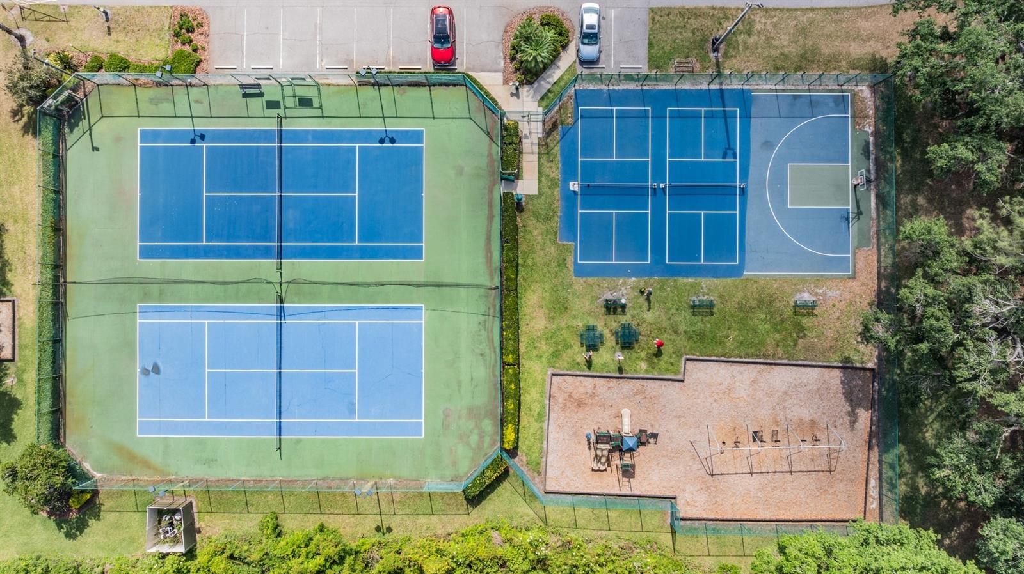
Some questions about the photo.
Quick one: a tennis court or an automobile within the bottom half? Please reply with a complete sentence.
Visible within the bottom half is a tennis court.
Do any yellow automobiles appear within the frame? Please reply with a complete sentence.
No, the scene contains no yellow automobile.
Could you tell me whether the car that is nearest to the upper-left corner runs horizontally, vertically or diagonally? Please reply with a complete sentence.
The car that is nearest to the upper-left corner runs vertically in the image.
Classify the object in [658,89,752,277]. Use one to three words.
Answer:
sports court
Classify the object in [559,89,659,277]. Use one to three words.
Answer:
sports court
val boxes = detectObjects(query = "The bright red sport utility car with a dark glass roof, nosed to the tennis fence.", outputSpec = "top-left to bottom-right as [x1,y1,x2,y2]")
[428,5,457,67]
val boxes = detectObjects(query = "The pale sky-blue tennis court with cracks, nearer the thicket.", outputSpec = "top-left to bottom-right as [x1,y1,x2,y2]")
[66,282,500,479]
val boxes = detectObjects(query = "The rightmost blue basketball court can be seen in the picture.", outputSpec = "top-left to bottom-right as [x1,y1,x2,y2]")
[743,88,871,277]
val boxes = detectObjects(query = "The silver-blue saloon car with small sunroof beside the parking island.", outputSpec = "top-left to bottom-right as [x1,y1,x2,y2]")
[576,1,603,63]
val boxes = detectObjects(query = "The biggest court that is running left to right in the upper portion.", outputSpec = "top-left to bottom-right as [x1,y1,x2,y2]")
[66,85,500,282]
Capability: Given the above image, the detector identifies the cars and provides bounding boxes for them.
[428,5,457,67]
[576,1,603,63]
